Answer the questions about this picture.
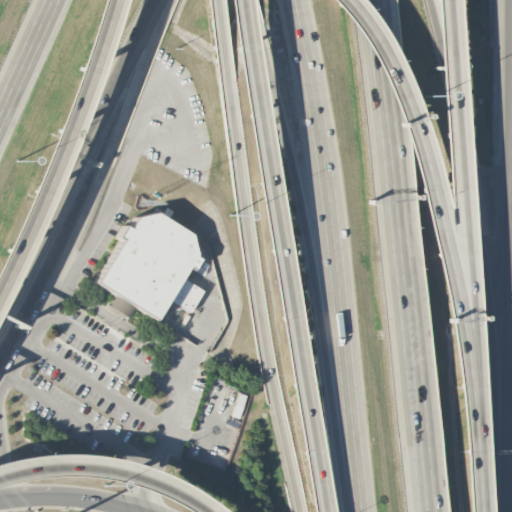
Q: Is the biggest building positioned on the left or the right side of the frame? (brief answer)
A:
left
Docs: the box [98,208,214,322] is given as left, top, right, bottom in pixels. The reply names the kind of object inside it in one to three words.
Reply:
building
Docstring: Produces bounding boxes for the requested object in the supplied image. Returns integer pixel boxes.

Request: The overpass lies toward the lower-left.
[0,454,232,512]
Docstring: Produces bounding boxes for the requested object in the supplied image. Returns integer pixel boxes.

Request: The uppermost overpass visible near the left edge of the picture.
[0,0,135,334]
